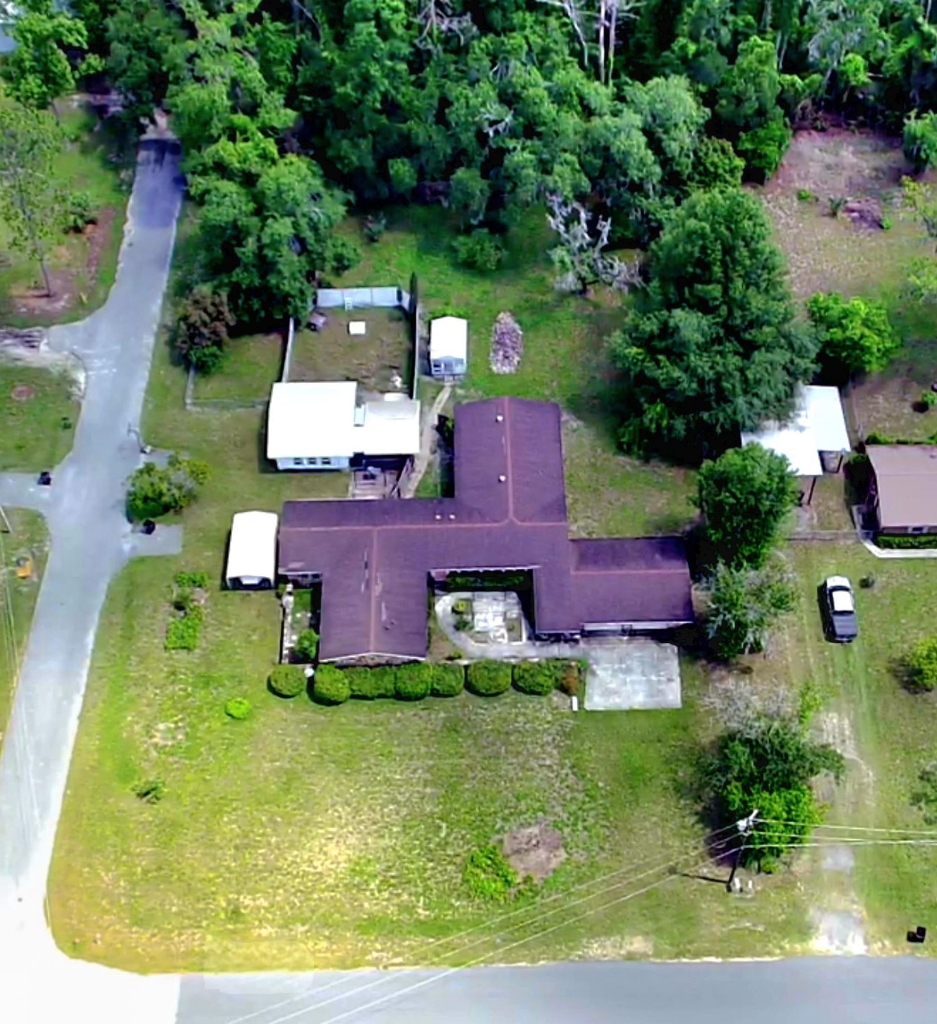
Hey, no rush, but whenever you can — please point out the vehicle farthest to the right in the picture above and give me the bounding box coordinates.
[827,581,864,652]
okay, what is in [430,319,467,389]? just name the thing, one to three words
shed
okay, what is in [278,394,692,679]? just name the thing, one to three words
house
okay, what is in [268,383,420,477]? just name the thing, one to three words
shed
